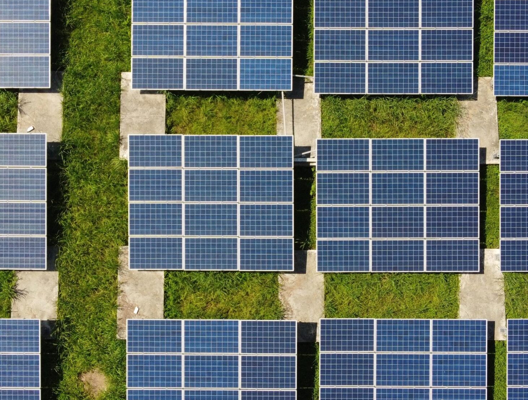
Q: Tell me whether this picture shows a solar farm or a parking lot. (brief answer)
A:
solar farm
